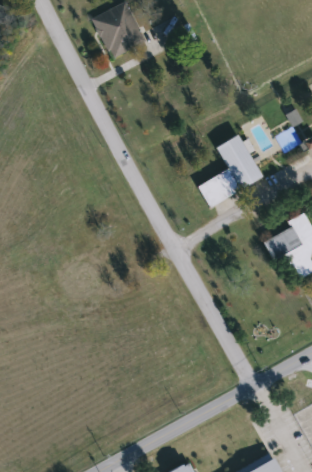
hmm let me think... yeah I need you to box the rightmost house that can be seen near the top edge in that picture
[92,2,145,58]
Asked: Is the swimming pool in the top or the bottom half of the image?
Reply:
top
